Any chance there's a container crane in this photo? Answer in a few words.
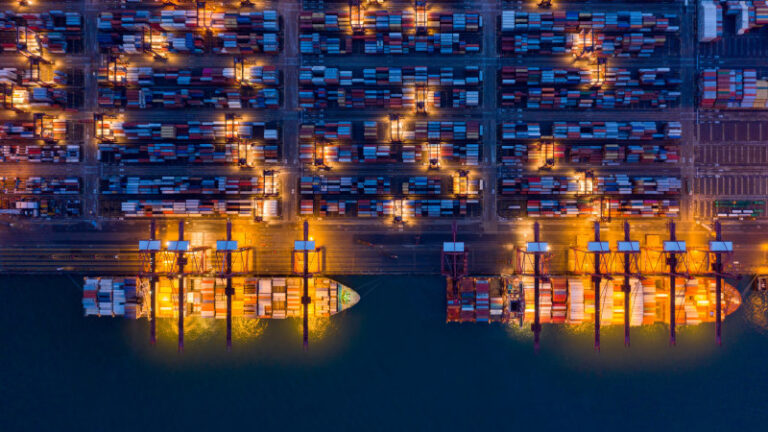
Yes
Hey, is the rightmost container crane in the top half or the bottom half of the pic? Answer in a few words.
bottom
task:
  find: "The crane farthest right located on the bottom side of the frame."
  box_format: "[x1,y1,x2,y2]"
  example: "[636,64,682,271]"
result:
[676,222,743,349]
